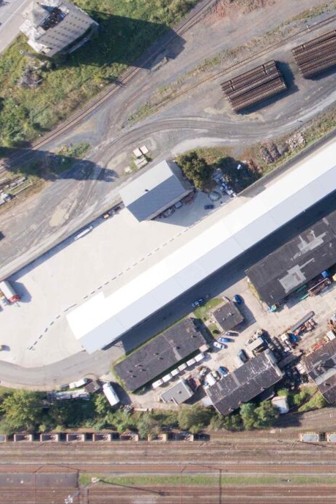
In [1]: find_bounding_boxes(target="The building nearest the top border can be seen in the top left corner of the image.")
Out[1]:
[20,0,100,59]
